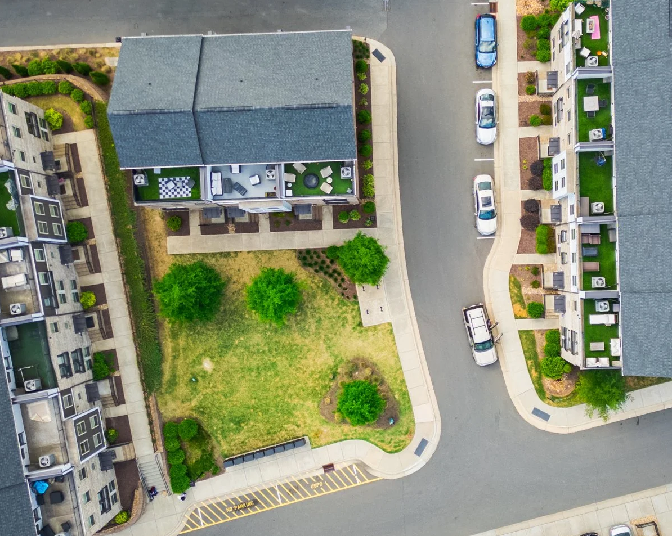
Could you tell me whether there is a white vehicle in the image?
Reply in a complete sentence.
Yes, a white vehicle is visible in the scene.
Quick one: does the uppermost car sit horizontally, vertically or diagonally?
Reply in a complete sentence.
The uppermost car runs vertically in the image.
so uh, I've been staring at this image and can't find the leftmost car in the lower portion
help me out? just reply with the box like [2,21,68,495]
[464,305,502,365]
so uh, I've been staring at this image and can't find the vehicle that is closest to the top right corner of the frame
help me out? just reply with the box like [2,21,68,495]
[474,12,500,68]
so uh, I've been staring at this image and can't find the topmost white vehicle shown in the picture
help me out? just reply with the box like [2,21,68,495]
[474,88,500,144]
